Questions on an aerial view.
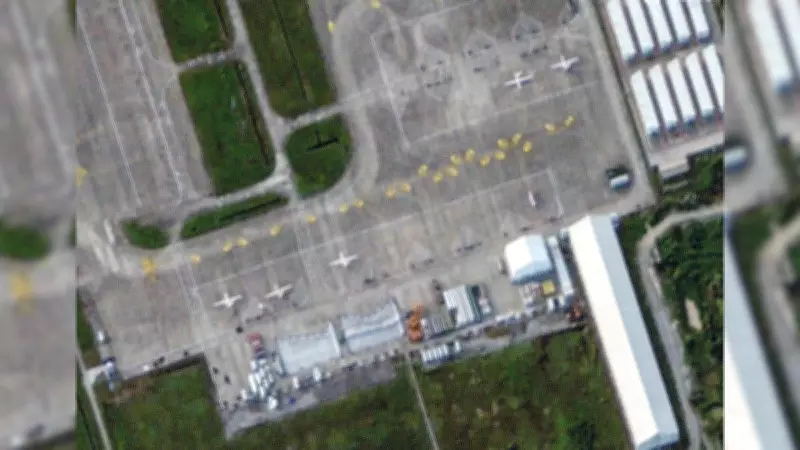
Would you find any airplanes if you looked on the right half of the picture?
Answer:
Yes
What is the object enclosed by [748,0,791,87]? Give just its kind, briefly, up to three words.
building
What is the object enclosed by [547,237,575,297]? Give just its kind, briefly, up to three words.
shed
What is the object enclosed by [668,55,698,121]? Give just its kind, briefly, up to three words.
building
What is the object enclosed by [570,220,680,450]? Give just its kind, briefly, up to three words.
hangar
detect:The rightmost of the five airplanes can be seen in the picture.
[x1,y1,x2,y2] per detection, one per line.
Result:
[552,55,579,73]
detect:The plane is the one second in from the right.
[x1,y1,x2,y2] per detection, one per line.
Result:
[505,70,533,89]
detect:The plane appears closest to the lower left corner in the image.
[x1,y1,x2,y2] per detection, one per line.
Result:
[213,291,242,311]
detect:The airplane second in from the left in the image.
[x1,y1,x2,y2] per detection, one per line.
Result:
[263,284,292,303]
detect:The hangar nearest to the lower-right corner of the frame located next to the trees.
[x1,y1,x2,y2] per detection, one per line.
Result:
[724,291,764,450]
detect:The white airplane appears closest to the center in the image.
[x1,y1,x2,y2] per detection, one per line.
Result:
[330,251,359,271]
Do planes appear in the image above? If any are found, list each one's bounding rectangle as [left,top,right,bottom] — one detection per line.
[263,284,292,303]
[552,55,579,73]
[505,70,533,89]
[213,291,242,311]
[330,251,359,271]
